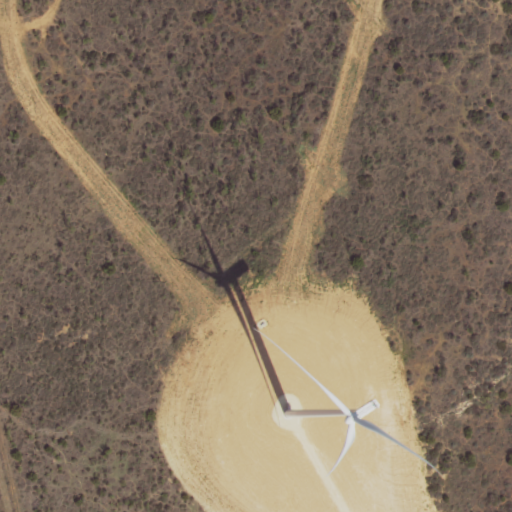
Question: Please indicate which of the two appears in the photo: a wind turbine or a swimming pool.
wind turbine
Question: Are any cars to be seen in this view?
No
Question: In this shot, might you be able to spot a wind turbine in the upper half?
No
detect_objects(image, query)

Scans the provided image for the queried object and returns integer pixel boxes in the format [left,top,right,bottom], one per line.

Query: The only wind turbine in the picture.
[255,328,442,477]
